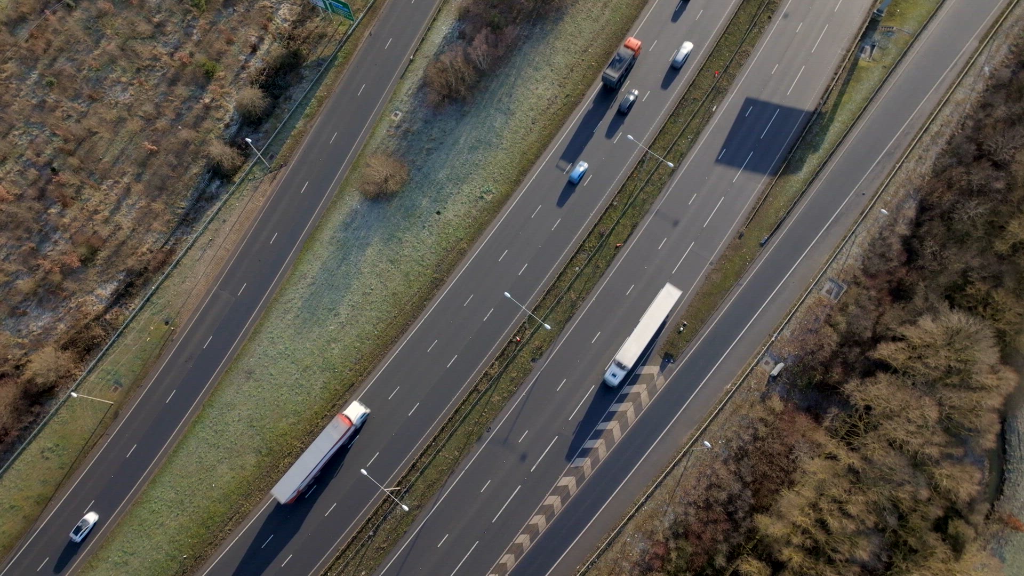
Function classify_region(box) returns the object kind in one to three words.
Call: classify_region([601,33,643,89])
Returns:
truck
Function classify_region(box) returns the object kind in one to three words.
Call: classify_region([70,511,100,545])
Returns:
car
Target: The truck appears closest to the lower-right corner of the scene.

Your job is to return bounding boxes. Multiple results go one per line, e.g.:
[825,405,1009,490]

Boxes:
[601,283,682,388]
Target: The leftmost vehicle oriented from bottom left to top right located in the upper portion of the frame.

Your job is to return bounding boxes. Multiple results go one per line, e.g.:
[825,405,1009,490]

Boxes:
[569,161,588,185]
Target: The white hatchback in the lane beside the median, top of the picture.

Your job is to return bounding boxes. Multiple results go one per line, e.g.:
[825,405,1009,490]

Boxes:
[671,44,693,70]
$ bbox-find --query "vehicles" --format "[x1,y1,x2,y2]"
[601,33,643,89]
[601,283,682,388]
[671,44,693,70]
[70,511,100,545]
[272,396,371,502]
[569,161,588,185]
[618,89,639,115]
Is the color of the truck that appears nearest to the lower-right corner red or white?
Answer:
white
